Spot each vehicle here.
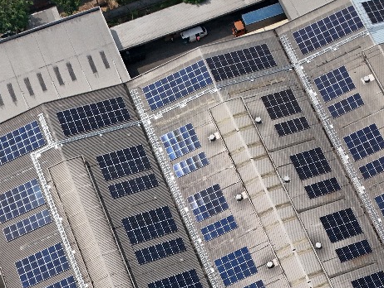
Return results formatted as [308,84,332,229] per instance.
[181,31,208,50]
[234,5,277,34]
